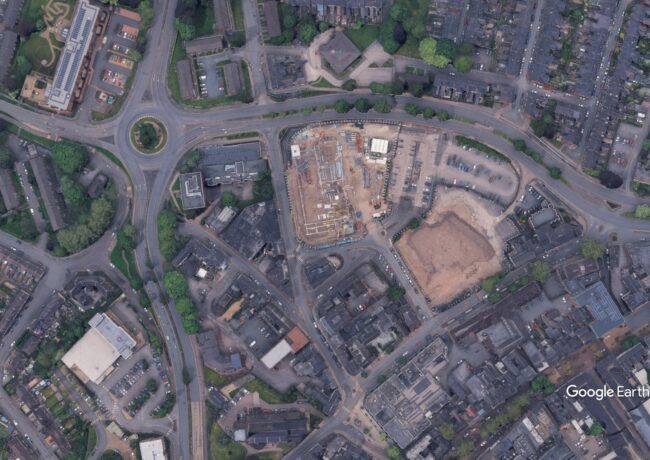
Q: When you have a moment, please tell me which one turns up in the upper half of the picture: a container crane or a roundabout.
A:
roundabout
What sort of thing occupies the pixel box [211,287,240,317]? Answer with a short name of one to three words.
building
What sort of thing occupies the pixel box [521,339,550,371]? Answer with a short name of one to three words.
building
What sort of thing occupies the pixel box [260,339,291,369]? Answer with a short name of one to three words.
shed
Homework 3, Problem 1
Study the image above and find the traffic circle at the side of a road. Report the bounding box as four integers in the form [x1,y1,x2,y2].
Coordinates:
[119,105,180,166]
